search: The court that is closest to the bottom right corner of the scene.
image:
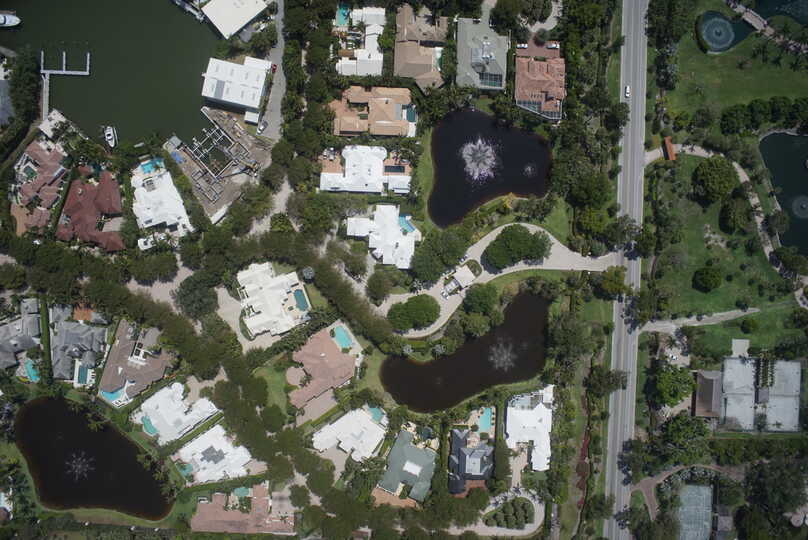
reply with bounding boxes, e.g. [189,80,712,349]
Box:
[679,486,713,540]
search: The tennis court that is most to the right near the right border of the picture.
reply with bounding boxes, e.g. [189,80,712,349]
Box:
[769,360,801,432]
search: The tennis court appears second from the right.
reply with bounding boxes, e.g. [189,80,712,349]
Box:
[724,358,754,431]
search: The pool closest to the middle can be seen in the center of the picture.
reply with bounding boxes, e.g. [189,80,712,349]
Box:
[399,214,415,233]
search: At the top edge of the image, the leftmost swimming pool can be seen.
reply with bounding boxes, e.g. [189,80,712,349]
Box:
[337,4,350,26]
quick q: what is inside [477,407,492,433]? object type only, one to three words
swimming pool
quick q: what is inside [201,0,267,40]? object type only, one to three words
building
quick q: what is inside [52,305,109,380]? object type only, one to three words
house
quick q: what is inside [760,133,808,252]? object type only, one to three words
pond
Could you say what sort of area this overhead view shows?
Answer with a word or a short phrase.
residential area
